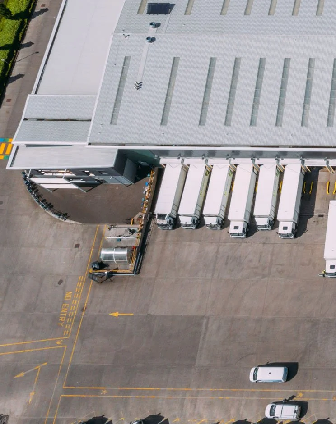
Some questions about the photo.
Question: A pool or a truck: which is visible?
truck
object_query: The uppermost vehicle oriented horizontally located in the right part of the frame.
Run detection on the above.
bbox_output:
[251,366,289,383]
